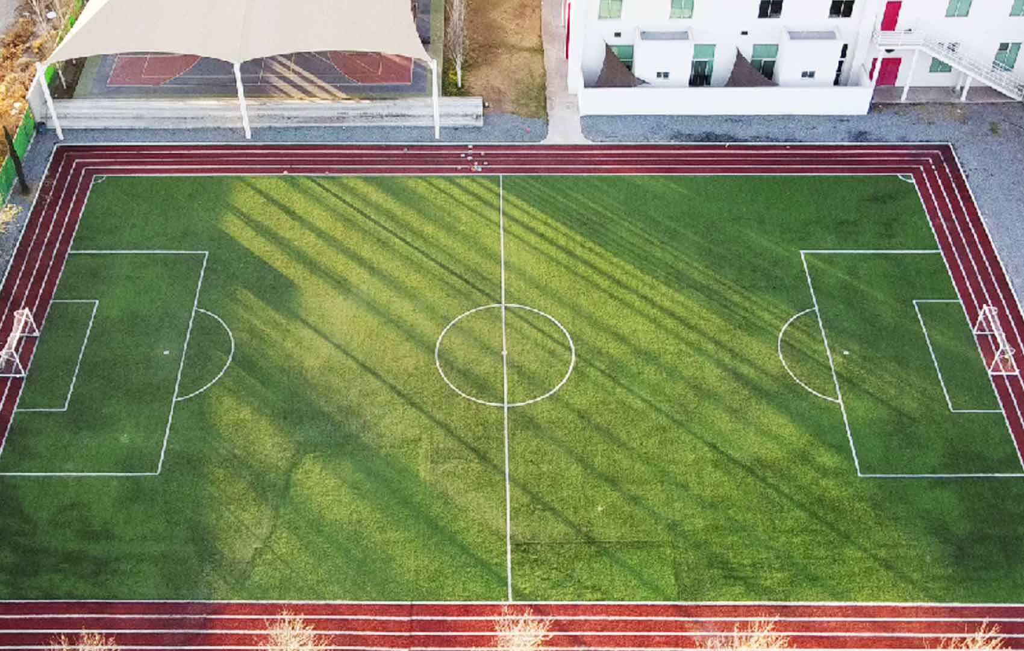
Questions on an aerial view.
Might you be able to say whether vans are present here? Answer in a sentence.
No, the picture doesn't show any van.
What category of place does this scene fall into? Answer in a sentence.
This looks like a sports ground.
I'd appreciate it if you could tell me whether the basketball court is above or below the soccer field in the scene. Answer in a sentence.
The basketball court is found above the soccer field in the photo.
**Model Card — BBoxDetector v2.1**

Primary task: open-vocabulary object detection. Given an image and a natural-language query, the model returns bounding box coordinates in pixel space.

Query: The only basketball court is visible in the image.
[71,0,447,99]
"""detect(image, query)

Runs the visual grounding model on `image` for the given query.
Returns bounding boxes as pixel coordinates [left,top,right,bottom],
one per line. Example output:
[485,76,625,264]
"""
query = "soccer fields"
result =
[0,174,1024,604]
